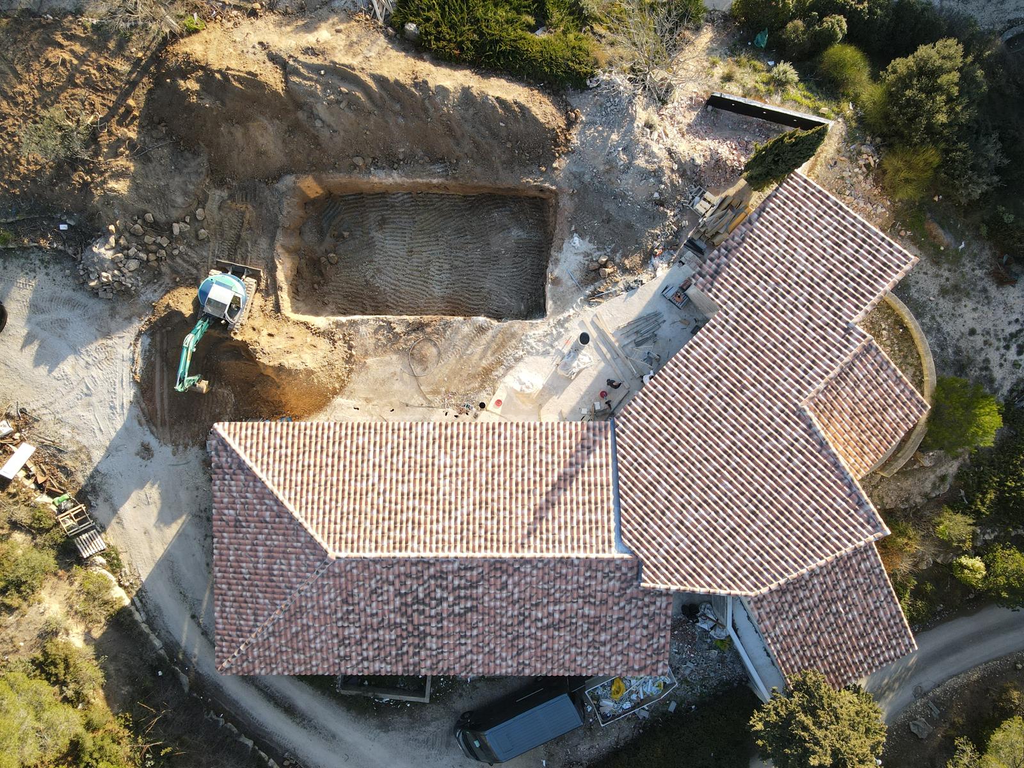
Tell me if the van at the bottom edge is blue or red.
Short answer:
blue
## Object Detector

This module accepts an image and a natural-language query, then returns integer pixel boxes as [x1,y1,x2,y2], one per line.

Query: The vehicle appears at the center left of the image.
[175,252,265,394]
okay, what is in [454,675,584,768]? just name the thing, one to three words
van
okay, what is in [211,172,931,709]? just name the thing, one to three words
house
